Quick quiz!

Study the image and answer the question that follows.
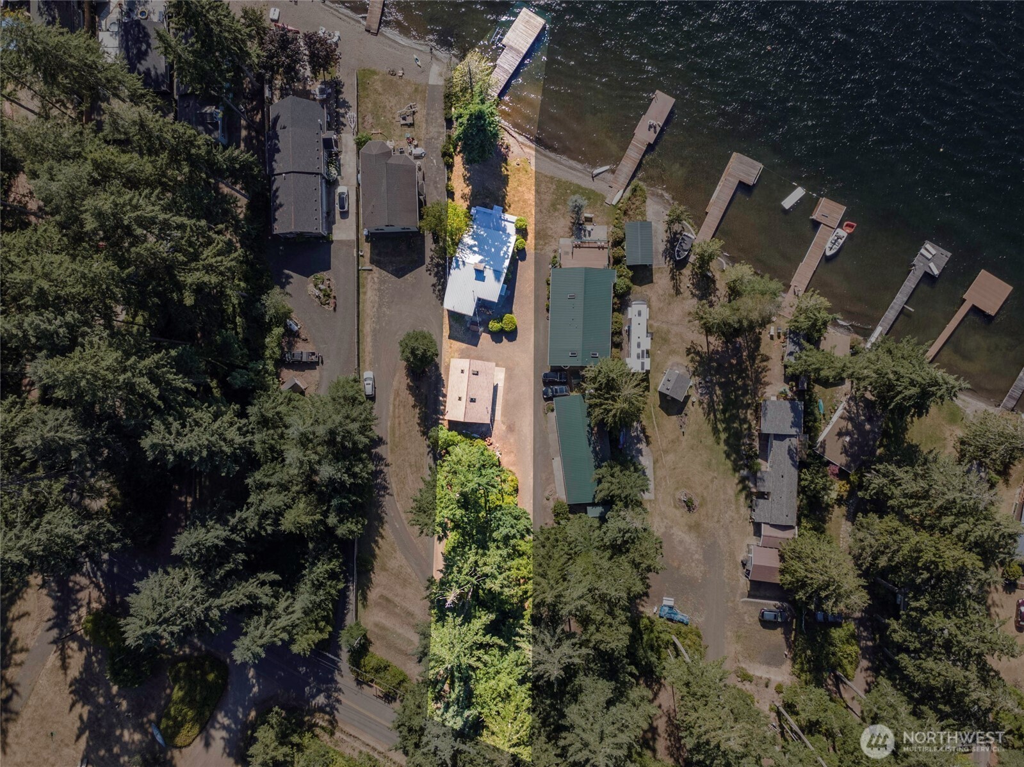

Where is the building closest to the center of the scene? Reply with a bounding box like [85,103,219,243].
[445,358,495,423]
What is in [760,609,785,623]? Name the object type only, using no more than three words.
car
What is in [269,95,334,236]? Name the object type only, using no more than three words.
house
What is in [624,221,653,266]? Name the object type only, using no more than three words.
shed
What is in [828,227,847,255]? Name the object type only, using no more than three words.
boat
